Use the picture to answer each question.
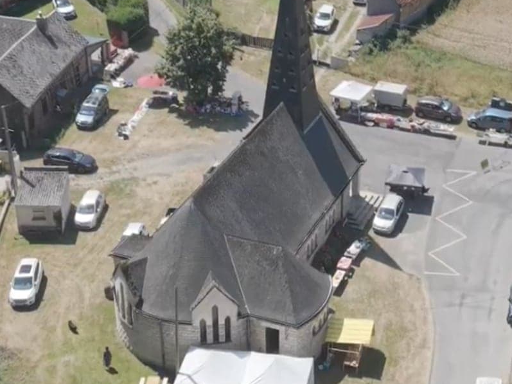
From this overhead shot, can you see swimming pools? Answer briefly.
No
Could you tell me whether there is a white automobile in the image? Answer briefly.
Yes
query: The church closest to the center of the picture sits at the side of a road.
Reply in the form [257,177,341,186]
[105,0,387,371]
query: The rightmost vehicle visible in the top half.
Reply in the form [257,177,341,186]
[469,106,512,133]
